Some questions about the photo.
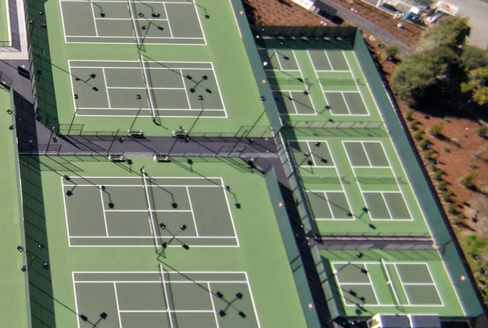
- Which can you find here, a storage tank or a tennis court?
tennis court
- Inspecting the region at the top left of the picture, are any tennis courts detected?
Yes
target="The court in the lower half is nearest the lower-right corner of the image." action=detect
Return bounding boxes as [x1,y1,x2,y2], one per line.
[330,262,446,307]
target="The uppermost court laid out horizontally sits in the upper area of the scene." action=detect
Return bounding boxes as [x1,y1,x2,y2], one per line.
[59,0,207,44]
